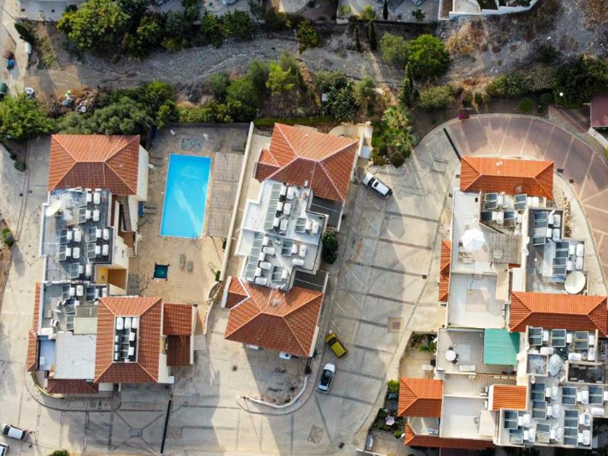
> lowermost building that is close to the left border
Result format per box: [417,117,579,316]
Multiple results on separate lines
[27,134,198,394]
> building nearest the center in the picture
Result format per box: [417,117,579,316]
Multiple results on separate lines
[221,122,359,357]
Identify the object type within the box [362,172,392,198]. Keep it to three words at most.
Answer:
car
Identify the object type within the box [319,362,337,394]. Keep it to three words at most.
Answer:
car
